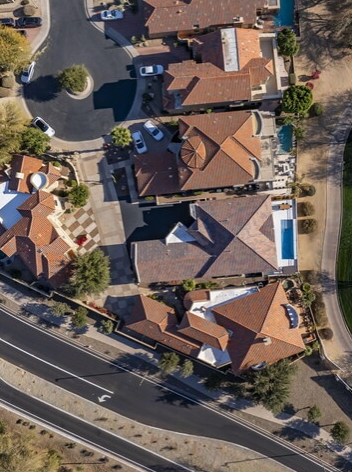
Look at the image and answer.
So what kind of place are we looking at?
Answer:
residential area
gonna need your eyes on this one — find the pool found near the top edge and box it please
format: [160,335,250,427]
[277,0,296,27]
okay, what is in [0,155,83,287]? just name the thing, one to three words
house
